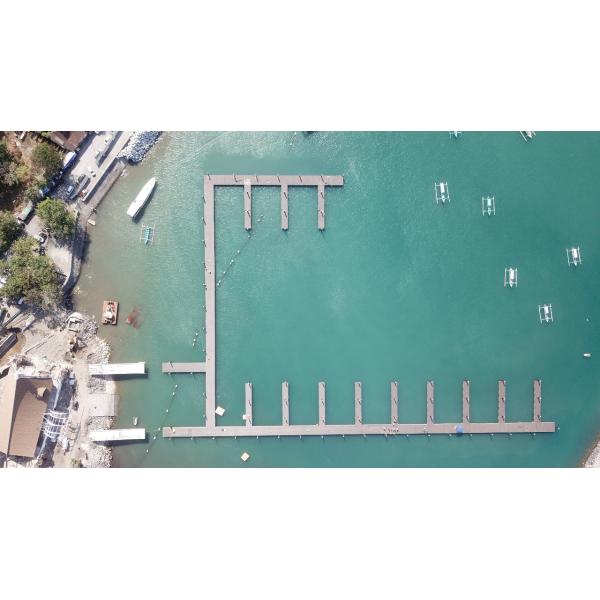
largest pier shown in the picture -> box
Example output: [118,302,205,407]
[162,176,555,438]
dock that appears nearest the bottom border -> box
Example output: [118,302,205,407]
[90,428,146,442]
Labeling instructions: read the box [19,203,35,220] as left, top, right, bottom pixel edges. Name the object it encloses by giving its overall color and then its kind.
white vehicle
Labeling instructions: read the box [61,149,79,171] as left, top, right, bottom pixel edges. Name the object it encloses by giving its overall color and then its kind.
white vehicle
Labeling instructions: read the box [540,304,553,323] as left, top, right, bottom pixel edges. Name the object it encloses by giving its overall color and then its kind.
white boat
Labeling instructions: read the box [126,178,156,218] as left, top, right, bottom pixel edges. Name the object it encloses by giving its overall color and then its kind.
white boat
